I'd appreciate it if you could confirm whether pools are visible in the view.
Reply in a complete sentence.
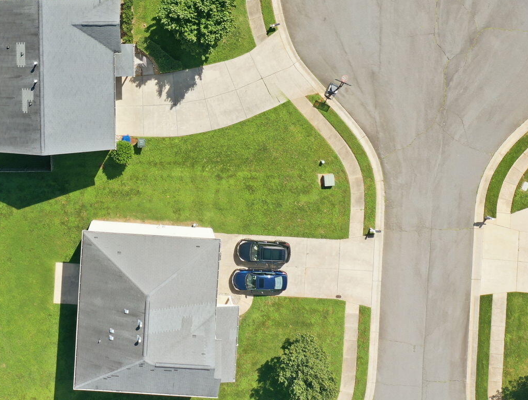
No, there is no pool in the image.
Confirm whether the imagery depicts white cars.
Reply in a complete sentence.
No, I find no white car anywhere in the image.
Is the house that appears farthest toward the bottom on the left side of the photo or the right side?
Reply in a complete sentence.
The house that appears farthest toward the bottom appears in the left half of the scene.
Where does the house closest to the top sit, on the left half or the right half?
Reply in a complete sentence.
You can find the house closest to the top on the left side of the picture.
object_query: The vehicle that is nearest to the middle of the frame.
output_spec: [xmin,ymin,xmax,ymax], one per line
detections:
[237,239,294,267]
